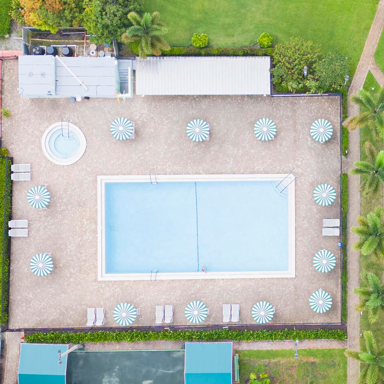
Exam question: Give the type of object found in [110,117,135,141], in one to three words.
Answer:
umbrella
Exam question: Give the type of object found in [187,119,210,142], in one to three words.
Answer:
umbrella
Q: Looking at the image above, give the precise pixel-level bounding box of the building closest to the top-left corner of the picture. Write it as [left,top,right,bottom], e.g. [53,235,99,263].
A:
[16,55,136,99]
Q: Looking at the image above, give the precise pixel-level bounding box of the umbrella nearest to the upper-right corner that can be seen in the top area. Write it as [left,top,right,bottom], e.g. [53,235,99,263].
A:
[310,119,334,143]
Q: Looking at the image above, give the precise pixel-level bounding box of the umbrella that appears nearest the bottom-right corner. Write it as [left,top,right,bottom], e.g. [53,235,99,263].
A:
[309,290,332,314]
